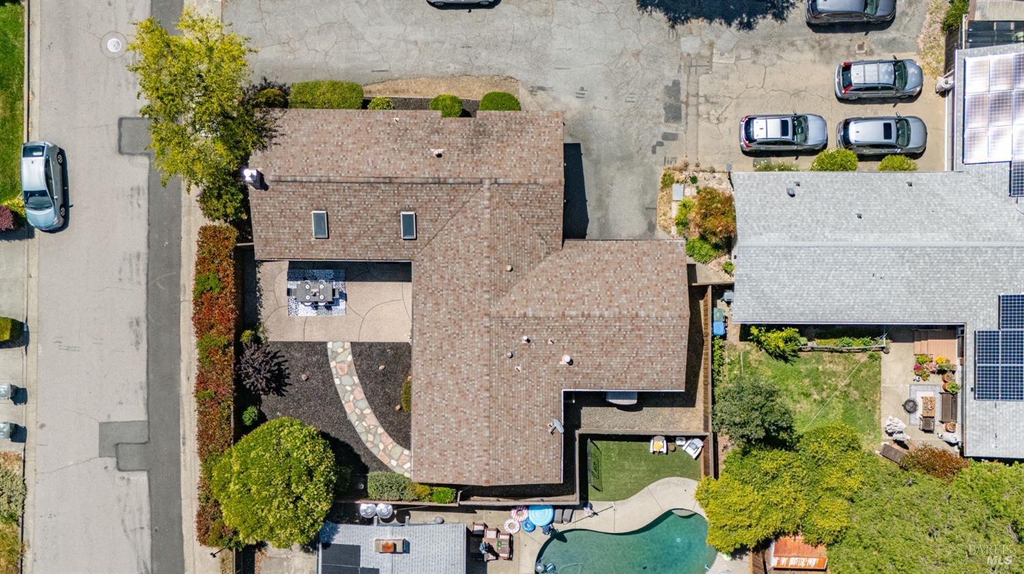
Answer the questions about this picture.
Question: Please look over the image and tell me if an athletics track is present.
No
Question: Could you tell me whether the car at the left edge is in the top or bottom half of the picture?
top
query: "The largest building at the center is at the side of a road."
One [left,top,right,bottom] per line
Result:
[246,109,689,489]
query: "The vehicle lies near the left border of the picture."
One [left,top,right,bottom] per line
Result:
[22,141,72,232]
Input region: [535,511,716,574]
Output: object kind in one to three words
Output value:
swimming pool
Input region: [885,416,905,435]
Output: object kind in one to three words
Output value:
umbrella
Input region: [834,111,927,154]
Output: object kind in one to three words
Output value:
car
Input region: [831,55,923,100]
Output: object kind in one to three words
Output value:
car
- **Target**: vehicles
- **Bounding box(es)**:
[834,111,927,154]
[738,109,828,153]
[22,141,72,232]
[803,0,895,26]
[831,55,923,100]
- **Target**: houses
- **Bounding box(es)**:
[728,34,1024,460]
[246,109,689,489]
[316,516,468,574]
